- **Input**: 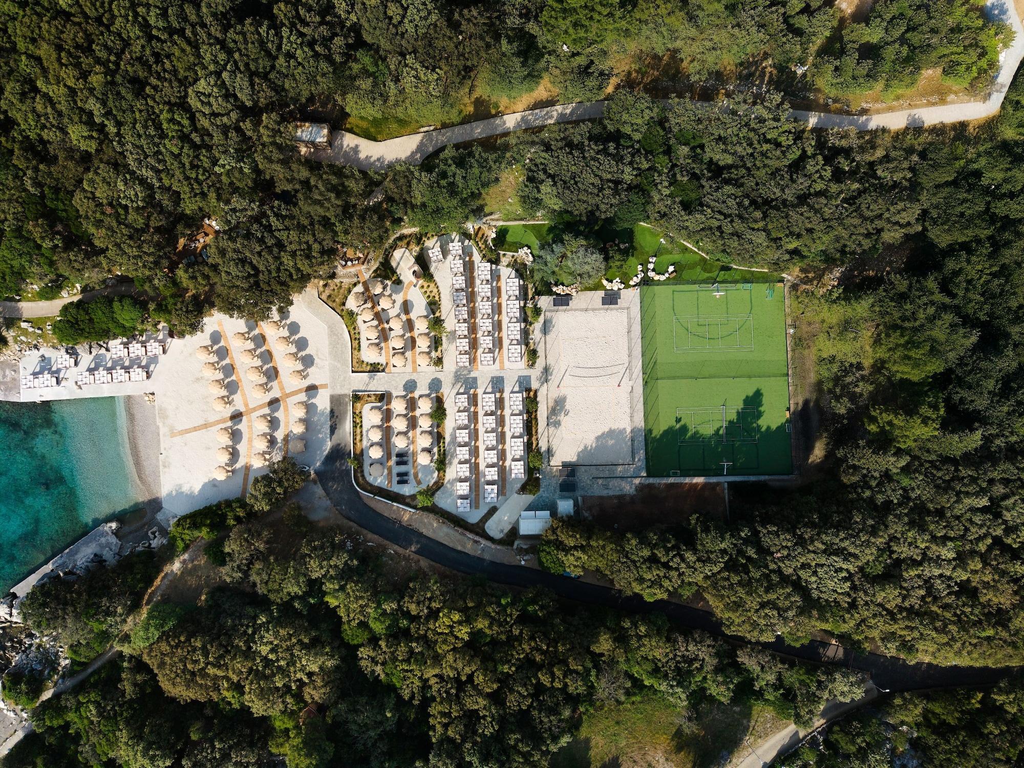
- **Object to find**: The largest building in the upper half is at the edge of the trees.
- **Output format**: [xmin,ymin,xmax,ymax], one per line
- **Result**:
[295,123,332,148]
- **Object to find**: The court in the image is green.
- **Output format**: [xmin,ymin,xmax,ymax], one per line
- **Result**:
[640,283,793,477]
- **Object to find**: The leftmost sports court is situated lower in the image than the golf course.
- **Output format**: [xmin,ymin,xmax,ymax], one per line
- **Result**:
[545,308,634,467]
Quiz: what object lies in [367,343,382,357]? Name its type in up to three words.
umbrella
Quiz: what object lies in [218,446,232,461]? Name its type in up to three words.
umbrella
